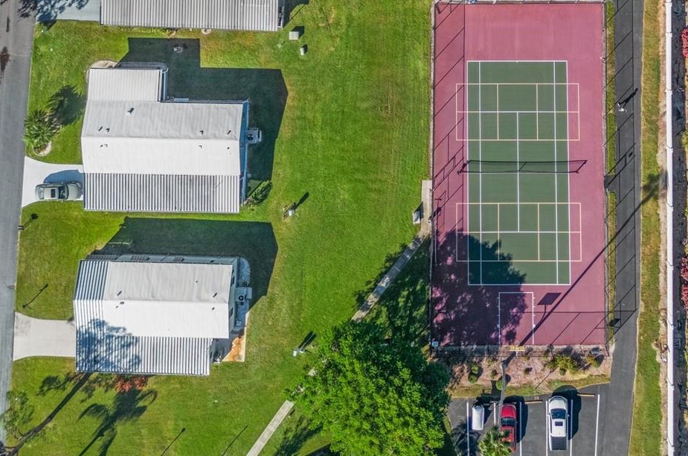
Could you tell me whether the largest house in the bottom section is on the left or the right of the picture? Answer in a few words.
left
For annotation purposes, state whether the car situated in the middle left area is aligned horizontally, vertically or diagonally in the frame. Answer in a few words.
horizontally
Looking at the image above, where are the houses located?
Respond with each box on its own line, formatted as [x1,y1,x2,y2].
[73,254,238,376]
[81,63,252,213]
[100,0,280,31]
